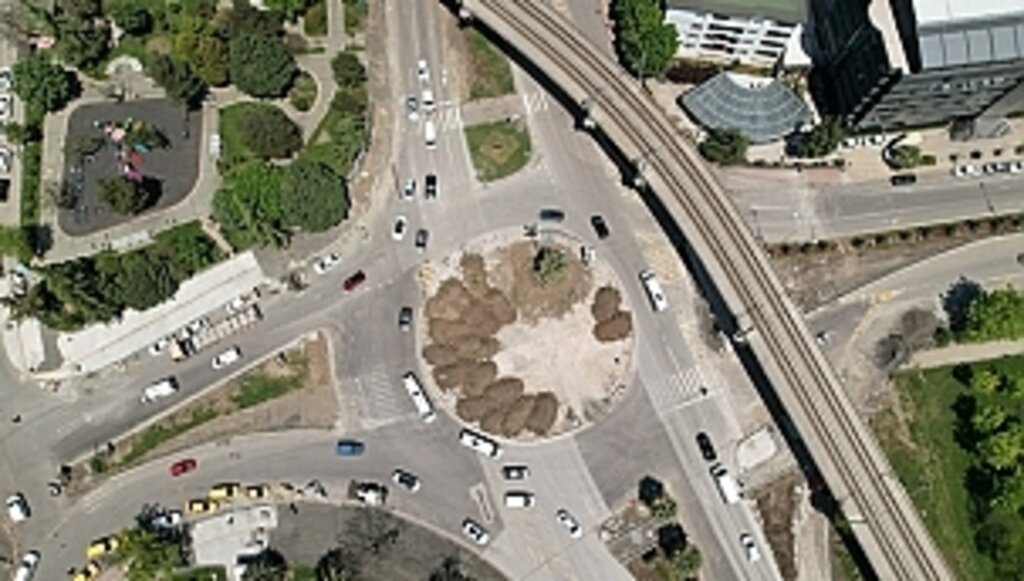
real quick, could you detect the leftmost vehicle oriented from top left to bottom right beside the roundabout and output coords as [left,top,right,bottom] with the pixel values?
[400,372,436,422]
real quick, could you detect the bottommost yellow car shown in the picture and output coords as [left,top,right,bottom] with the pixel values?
[67,561,102,581]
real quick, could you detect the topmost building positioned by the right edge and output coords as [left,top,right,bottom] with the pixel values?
[804,0,1024,126]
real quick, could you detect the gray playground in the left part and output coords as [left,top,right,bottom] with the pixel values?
[57,98,203,237]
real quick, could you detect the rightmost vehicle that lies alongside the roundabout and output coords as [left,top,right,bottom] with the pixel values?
[638,272,669,312]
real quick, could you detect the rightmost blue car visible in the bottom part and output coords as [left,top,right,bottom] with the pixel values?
[335,441,365,456]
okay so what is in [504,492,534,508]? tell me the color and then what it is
white vehicle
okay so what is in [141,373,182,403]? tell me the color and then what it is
white van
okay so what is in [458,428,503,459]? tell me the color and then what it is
white vehicle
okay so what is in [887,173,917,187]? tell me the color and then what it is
black car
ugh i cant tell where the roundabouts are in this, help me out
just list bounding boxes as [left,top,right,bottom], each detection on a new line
[419,232,635,444]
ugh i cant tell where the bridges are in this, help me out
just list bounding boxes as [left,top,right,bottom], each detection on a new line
[461,0,952,581]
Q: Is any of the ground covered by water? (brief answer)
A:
No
